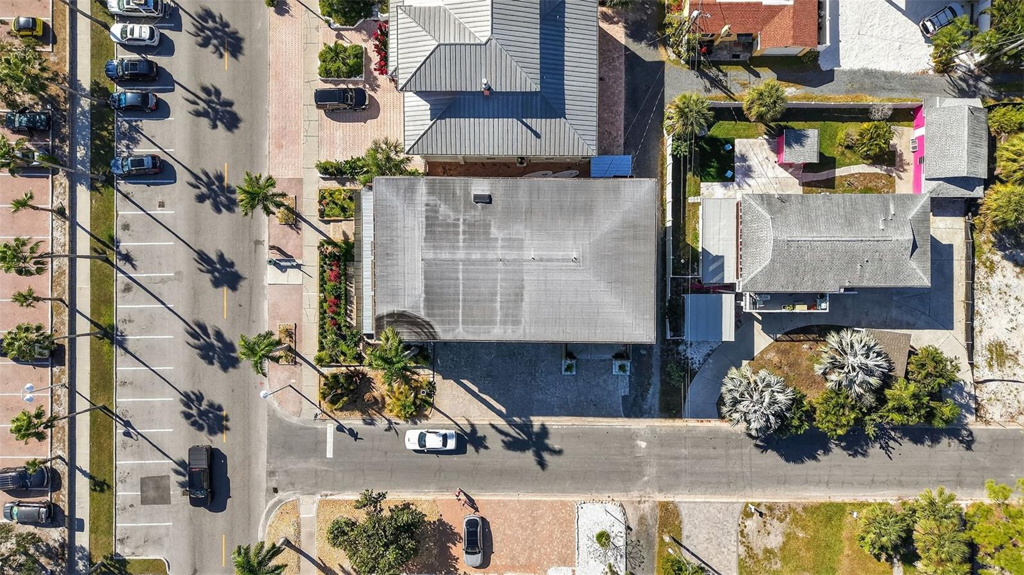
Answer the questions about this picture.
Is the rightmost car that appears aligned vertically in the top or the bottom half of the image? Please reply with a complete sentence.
The rightmost car that appears aligned vertically is in the bottom half of the image.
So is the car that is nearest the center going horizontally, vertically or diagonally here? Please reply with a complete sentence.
What the image shows is the car that is nearest the center lying horizontally.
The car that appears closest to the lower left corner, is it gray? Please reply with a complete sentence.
Yes, the car that appears closest to the lower left corner appears gray.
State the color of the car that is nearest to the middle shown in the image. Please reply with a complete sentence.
The car that is nearest to the middle is white.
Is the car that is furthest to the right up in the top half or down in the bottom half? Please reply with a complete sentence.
Seen from above, the car that is furthest to the right lies in the top half of the view.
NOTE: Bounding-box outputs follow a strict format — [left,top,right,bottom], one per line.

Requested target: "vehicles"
[0,466,52,493]
[1,500,54,526]
[913,0,965,40]
[110,152,164,177]
[106,0,165,19]
[461,514,486,568]
[312,86,368,113]
[103,54,160,83]
[4,109,53,133]
[405,427,458,453]
[109,20,161,48]
[109,88,160,113]
[9,14,44,38]
[184,444,215,506]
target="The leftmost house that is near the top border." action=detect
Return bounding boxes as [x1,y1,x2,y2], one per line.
[388,0,599,167]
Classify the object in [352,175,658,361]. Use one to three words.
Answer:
building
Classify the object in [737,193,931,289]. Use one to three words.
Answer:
house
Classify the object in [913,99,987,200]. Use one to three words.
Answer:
house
